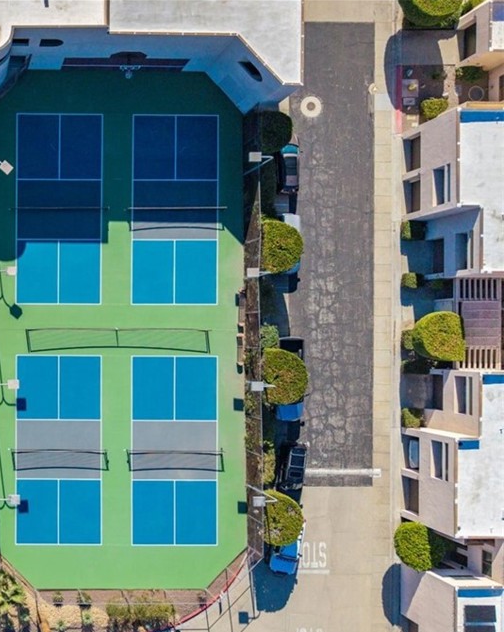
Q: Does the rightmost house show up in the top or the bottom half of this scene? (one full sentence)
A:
Seen from above, the rightmost house lies in the top half of the view.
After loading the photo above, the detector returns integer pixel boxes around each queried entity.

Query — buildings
[457,4,504,102]
[0,0,303,115]
[402,111,504,280]
[402,540,504,632]
[402,370,504,537]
